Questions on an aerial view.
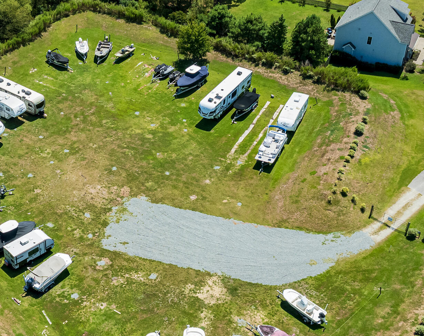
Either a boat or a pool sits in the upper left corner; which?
boat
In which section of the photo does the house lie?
top right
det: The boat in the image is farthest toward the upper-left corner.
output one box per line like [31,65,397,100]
[45,49,69,63]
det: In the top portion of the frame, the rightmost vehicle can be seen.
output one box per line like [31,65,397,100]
[276,93,309,141]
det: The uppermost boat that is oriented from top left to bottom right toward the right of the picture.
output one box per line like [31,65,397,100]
[283,289,327,329]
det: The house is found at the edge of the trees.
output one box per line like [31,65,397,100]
[331,0,421,66]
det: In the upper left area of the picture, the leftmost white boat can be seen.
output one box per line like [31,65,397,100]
[76,37,89,54]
